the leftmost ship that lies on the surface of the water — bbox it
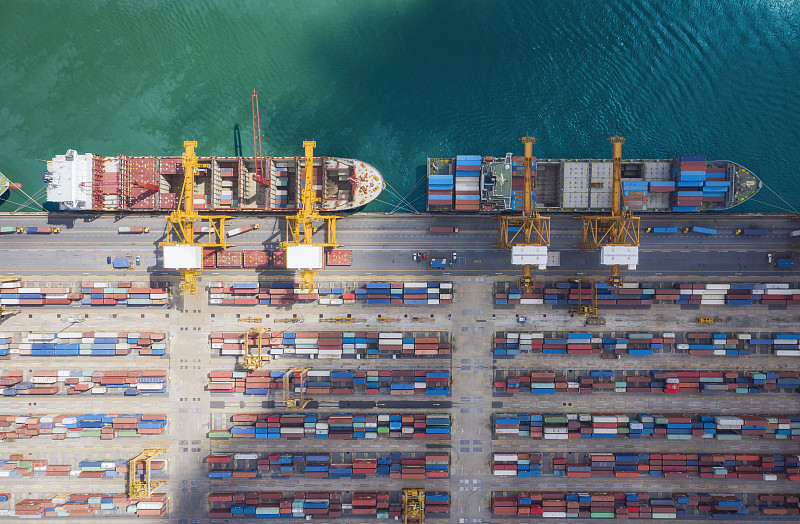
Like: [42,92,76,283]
[0,173,22,196]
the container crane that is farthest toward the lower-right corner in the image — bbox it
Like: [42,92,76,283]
[566,277,600,319]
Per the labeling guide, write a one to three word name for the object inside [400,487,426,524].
container crane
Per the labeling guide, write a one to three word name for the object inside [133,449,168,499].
container crane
